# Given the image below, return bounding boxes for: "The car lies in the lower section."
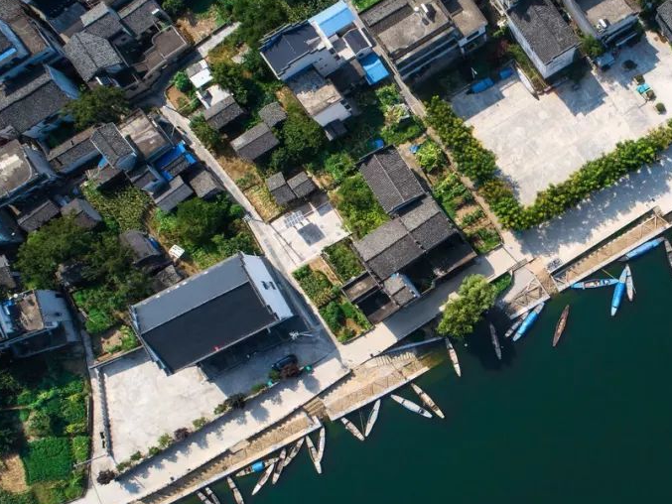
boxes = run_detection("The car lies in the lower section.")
[271,350,300,371]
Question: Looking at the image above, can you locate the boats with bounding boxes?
[390,394,431,417]
[342,418,364,440]
[612,266,628,315]
[572,281,619,288]
[619,237,666,260]
[491,324,501,358]
[252,464,274,495]
[554,306,569,346]
[227,478,243,504]
[666,241,672,264]
[506,312,530,336]
[411,385,444,418]
[236,459,277,476]
[197,494,209,504]
[307,437,320,474]
[206,488,219,504]
[366,400,380,437]
[514,302,544,341]
[273,450,286,484]
[284,439,305,466]
[317,428,323,466]
[446,338,461,376]
[628,264,633,301]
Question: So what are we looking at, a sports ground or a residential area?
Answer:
residential area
